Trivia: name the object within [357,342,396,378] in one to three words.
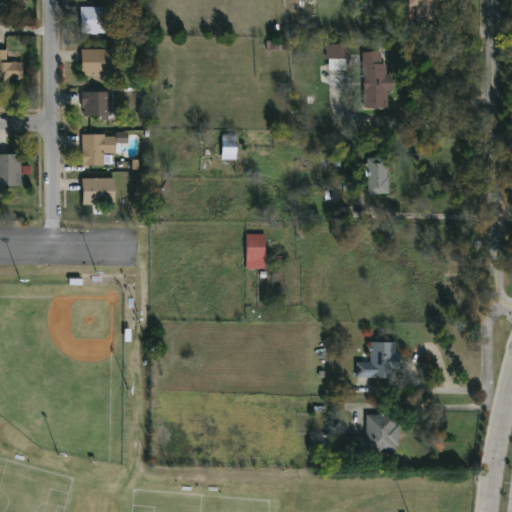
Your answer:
house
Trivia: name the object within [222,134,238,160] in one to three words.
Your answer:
shed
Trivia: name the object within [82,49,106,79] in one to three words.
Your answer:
house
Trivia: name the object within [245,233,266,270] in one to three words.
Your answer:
barn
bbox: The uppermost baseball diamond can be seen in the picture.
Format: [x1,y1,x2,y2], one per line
[0,284,124,464]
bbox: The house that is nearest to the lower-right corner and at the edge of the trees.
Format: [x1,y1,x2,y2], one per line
[366,415,400,453]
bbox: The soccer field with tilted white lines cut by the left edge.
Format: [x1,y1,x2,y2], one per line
[0,458,73,512]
